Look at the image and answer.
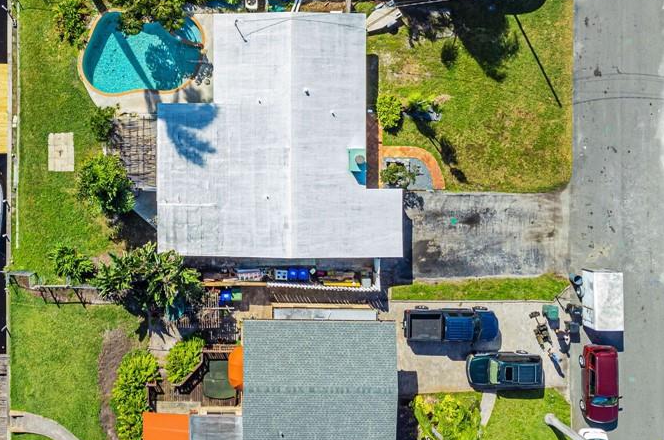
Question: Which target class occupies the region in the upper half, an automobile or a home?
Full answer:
The one visible in the upper half is a home.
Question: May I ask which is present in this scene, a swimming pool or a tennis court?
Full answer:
There is a swimming pool in the scene.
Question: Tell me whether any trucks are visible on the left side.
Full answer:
No, on the left side there is no truck.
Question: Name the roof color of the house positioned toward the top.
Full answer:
The roof of the house positioned toward the top is white.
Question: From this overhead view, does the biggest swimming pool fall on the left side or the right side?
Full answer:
It is on the left.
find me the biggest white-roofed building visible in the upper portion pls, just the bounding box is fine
[157,12,403,259]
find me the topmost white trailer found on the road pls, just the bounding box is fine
[575,249,624,331]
